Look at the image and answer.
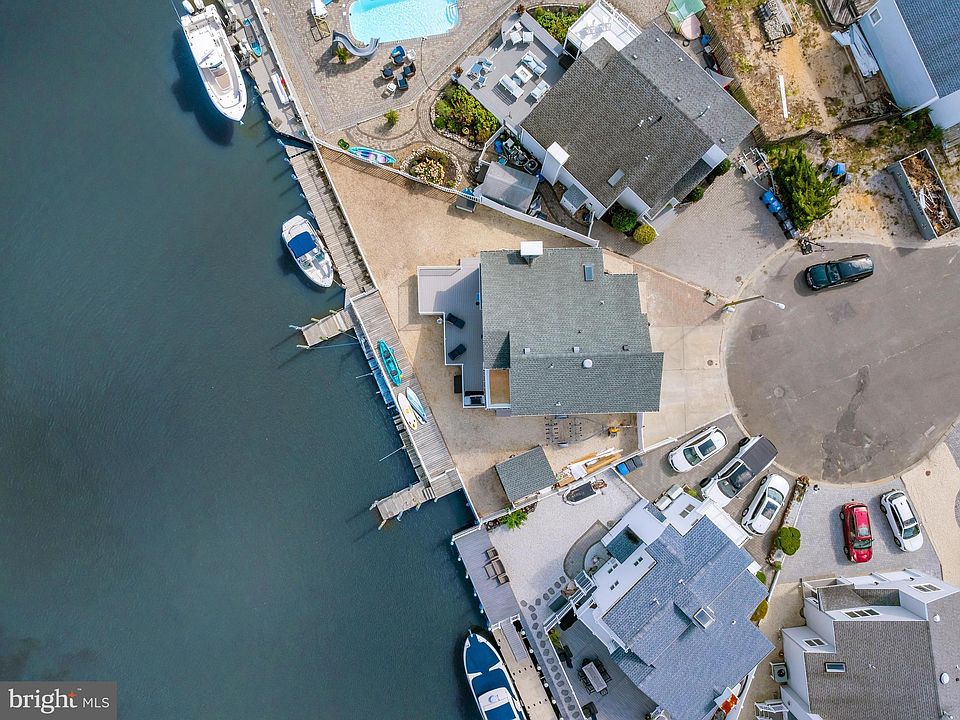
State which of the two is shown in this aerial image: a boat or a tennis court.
boat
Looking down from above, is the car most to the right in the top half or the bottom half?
bottom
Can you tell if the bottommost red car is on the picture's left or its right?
right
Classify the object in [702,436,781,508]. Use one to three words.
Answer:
truck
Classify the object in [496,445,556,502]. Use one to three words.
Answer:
shed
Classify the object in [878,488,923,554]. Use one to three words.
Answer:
car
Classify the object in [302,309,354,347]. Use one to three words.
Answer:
pier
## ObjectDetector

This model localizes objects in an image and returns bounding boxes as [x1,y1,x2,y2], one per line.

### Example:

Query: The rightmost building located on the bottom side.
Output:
[751,563,960,720]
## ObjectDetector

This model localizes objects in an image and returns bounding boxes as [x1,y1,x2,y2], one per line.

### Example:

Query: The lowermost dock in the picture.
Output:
[490,613,560,720]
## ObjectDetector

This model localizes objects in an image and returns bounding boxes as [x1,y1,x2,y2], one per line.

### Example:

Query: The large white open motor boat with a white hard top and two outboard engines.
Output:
[166,0,247,121]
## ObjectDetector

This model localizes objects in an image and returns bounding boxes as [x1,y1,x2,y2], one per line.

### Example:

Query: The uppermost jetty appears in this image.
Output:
[235,0,311,140]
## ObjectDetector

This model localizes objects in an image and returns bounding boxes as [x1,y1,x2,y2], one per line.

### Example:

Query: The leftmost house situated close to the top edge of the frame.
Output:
[458,0,758,236]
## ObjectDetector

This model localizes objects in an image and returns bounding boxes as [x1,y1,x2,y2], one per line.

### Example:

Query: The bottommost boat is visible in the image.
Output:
[464,630,523,720]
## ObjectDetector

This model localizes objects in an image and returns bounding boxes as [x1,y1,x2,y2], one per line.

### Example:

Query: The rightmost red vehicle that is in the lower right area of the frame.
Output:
[839,501,877,562]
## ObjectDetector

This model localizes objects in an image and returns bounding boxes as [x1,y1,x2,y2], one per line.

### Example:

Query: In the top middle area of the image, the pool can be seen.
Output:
[344,0,464,48]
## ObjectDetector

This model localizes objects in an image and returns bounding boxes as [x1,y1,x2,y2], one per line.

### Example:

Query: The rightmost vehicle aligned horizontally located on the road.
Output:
[804,253,878,292]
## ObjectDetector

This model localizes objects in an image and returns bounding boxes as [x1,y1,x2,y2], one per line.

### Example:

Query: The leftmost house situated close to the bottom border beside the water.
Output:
[543,488,776,720]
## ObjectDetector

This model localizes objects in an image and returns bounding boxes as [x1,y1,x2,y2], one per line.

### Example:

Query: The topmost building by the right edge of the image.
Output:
[858,0,960,170]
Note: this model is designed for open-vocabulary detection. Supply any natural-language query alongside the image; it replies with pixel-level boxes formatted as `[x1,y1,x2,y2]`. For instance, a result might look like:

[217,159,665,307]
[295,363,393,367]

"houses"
[543,488,776,720]
[458,0,758,236]
[751,563,960,720]
[858,0,960,170]
[417,241,664,417]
